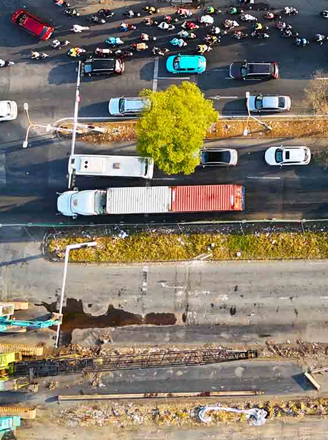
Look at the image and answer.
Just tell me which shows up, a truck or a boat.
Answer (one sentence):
This aerial view contains a truck.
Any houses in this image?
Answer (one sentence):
No, there is no house in the image.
